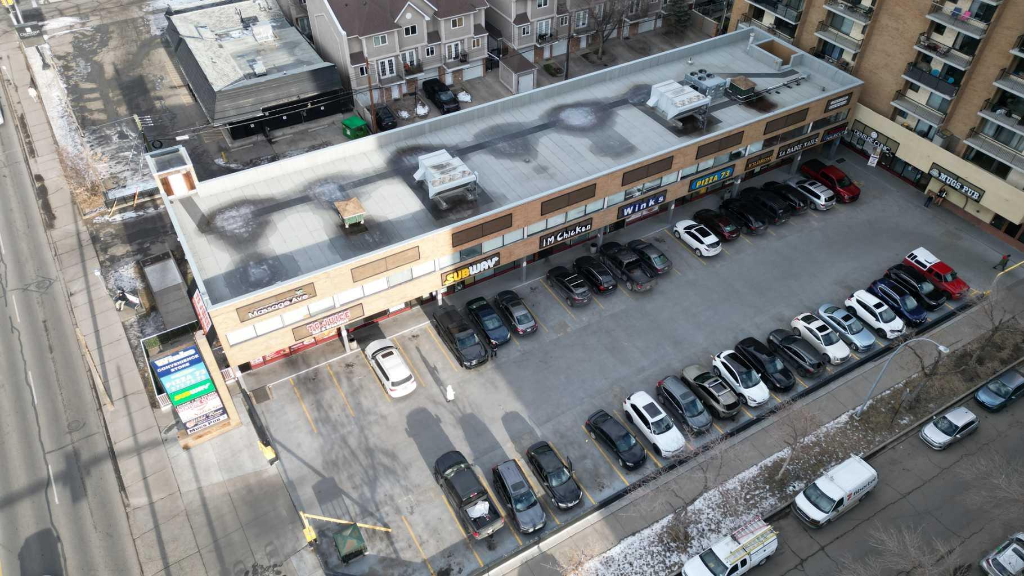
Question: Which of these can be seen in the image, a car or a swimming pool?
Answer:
car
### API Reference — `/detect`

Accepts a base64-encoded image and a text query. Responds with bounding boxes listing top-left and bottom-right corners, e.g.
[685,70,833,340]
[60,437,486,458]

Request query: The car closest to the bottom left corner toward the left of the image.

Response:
[371,341,417,394]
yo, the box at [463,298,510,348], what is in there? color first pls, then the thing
black car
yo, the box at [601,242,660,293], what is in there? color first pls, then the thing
black truck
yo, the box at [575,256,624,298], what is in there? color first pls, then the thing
black car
